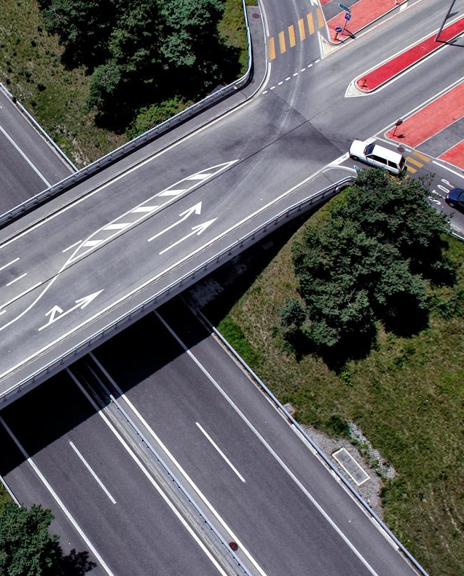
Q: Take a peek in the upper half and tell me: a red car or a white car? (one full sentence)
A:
It is a white car that can be seen in the upper half.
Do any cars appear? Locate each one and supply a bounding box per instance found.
[442,189,464,215]
[348,140,406,178]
